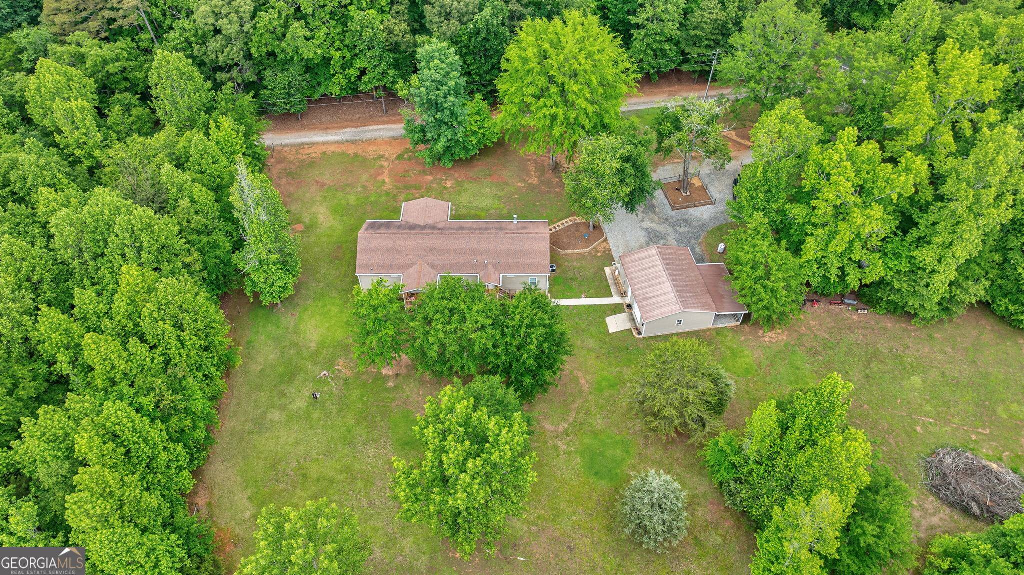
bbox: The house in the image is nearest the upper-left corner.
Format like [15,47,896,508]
[356,197,550,310]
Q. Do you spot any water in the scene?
No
